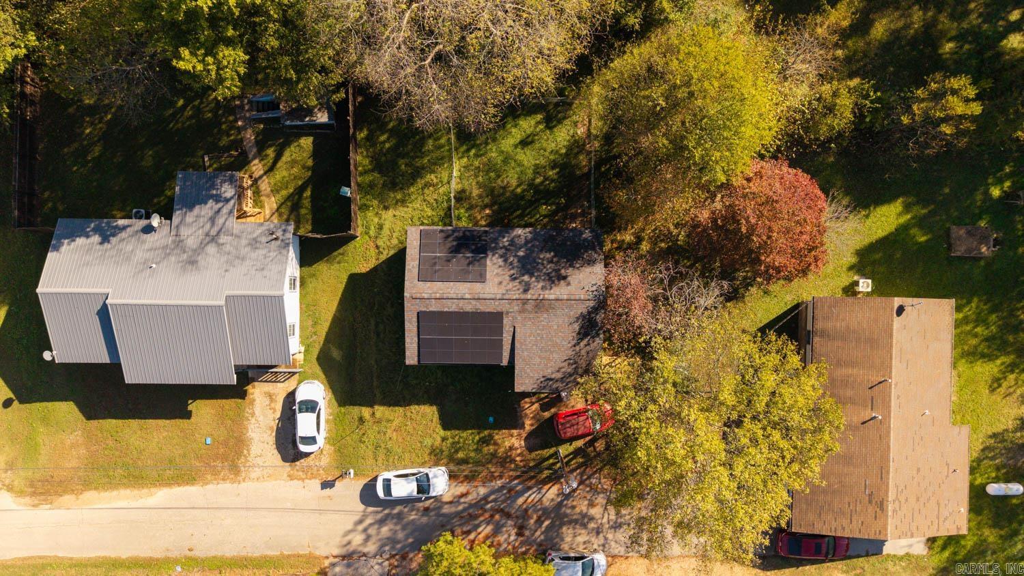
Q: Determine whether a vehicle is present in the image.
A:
Yes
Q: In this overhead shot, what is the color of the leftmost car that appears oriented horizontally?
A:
white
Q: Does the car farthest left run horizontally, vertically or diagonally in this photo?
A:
vertically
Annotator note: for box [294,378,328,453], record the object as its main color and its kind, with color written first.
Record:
white car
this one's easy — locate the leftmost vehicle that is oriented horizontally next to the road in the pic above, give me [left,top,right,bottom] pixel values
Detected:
[376,465,450,499]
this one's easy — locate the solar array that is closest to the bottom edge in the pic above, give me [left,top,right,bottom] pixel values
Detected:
[418,312,503,364]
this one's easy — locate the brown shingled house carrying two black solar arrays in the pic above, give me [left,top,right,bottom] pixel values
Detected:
[404,226,604,393]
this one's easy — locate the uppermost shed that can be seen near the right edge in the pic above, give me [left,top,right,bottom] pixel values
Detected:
[943,226,994,257]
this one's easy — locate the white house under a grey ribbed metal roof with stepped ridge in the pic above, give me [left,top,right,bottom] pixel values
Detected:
[37,171,310,384]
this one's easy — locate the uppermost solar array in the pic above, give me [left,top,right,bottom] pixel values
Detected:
[418,228,487,280]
